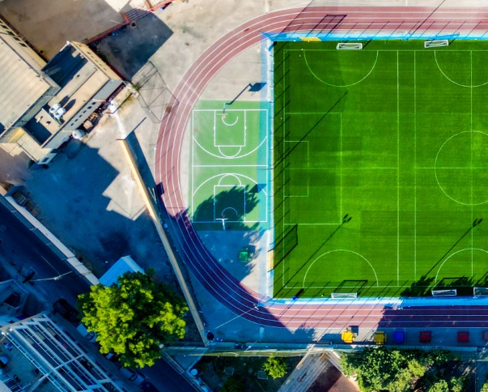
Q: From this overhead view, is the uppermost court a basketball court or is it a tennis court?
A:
basketball court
